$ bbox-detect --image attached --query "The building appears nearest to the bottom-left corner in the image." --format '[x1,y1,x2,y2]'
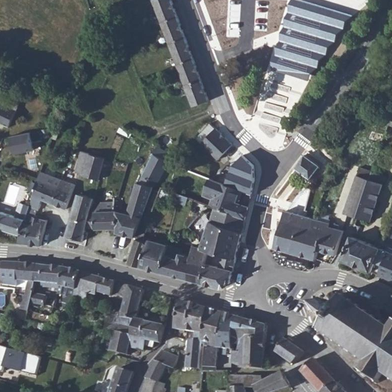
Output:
[0,346,38,374]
